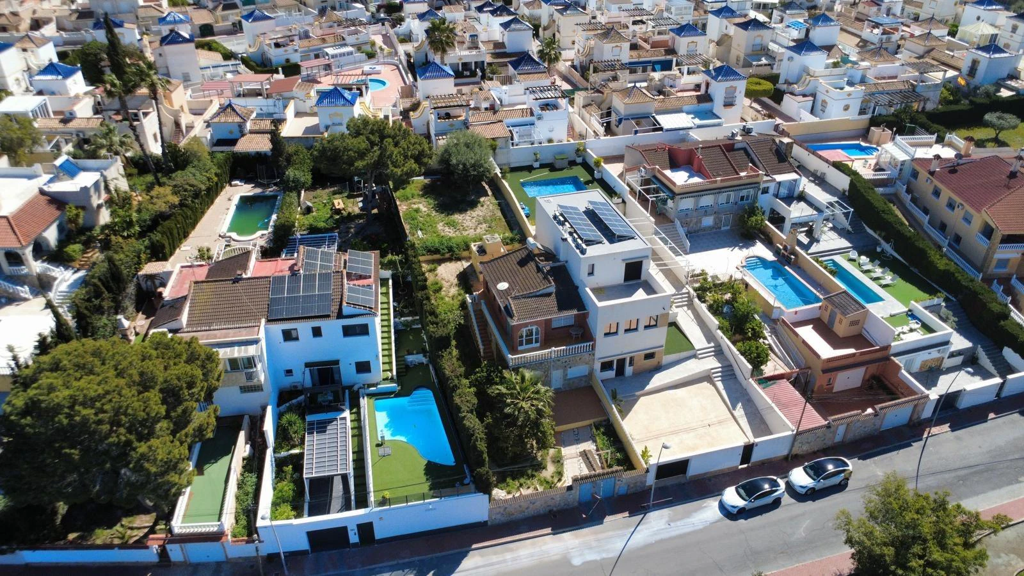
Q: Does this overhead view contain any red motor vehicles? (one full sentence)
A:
No, no red motor vehicle is visible in the scene.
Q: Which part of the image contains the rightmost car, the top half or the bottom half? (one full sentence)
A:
You can find the rightmost car in the bottom half.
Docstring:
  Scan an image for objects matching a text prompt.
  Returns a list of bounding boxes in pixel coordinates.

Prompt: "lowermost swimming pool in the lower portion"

[375,387,455,465]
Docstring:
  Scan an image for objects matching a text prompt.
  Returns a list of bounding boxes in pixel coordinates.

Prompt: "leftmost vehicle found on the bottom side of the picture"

[720,475,788,516]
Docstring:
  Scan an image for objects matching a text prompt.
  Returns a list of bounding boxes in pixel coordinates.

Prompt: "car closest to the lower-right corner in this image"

[789,455,856,494]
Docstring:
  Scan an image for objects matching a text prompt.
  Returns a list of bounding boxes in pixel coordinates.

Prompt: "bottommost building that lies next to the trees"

[118,464,263,563]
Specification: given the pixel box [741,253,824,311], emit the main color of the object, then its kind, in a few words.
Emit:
blue swimming pool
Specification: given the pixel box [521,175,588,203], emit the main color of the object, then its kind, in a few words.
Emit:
blue swimming pool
